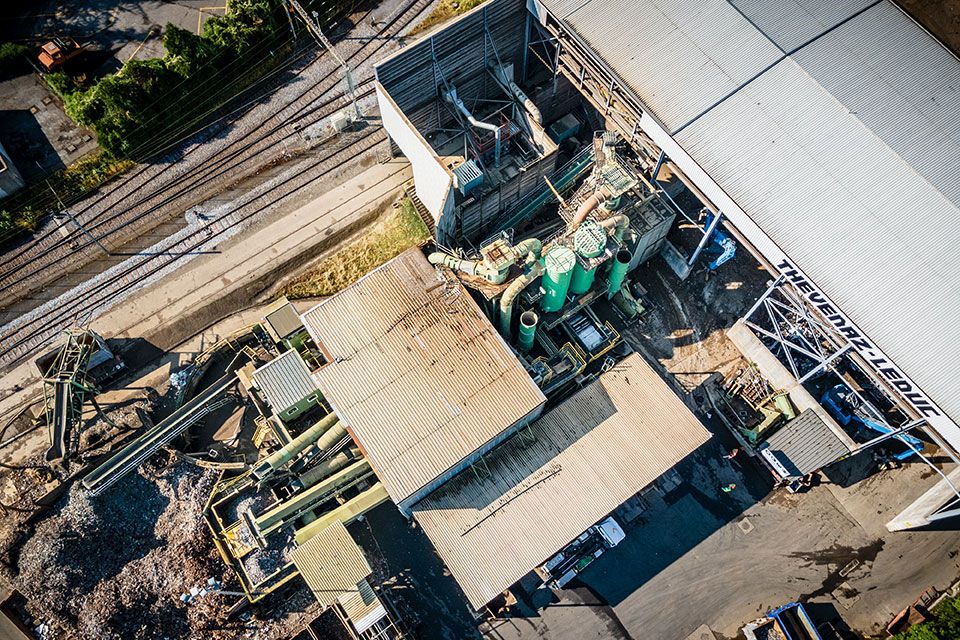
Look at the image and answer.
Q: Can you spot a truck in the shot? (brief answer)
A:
Yes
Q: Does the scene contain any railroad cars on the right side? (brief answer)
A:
No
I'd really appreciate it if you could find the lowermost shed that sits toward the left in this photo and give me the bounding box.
[337,577,392,634]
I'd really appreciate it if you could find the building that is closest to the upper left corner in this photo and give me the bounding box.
[0,125,44,231]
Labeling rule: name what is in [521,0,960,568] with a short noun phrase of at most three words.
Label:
building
